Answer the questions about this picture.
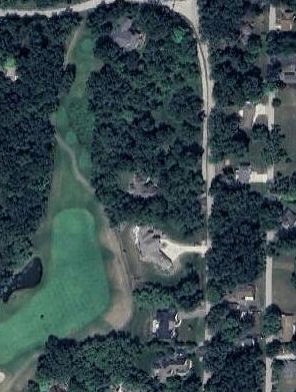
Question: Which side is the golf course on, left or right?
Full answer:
The golf course sits on the left side.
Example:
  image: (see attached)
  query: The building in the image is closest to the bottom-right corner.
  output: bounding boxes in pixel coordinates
[271,356,296,382]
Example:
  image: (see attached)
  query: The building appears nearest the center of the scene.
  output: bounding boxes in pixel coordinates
[128,176,158,199]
